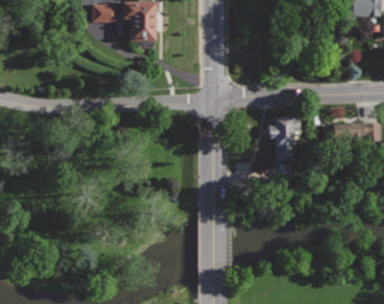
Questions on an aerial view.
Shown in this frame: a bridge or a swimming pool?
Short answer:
bridge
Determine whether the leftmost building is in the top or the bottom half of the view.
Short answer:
top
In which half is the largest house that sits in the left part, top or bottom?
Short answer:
top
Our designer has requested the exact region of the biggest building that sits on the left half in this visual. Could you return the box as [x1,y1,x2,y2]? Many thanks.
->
[124,1,164,48]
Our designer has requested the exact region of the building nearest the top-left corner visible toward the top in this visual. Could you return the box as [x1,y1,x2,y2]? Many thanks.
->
[92,3,118,22]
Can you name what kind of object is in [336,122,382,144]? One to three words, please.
house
